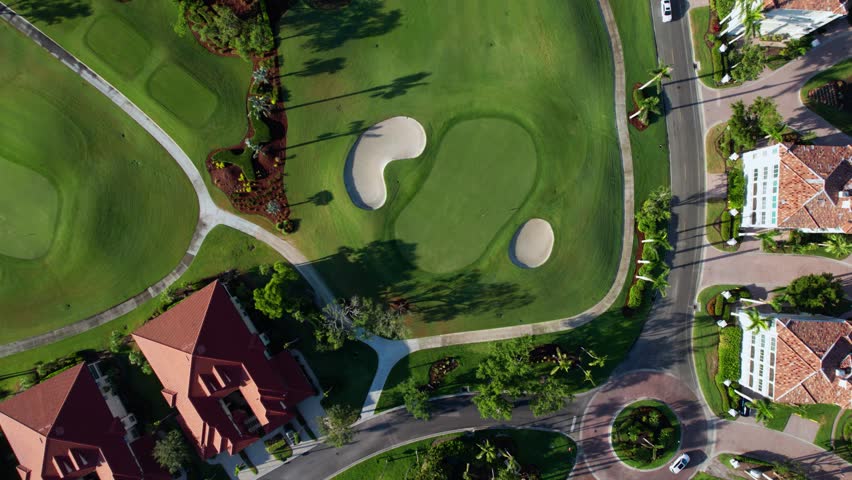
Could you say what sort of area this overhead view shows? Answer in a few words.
residential area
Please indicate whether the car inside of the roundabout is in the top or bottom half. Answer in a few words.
bottom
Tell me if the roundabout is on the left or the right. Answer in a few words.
right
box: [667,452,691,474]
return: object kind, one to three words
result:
car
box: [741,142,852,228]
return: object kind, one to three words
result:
house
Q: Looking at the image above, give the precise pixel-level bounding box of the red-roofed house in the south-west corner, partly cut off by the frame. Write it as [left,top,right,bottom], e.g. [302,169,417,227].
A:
[0,352,190,480]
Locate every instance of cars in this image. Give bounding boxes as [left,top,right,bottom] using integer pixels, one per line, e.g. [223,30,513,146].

[660,0,674,23]
[667,452,691,474]
[736,393,750,419]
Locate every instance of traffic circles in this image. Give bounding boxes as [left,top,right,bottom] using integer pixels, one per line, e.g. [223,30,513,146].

[582,369,708,480]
